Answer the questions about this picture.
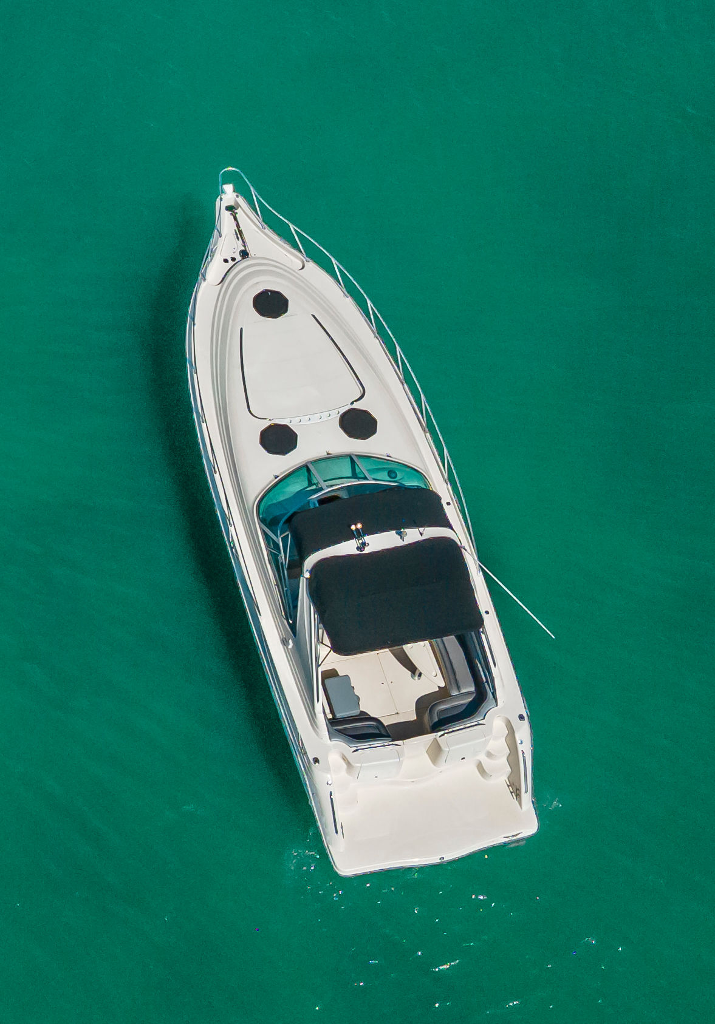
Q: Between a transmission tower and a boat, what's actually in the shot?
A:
boat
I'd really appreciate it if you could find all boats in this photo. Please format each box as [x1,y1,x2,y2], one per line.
[187,166,554,881]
